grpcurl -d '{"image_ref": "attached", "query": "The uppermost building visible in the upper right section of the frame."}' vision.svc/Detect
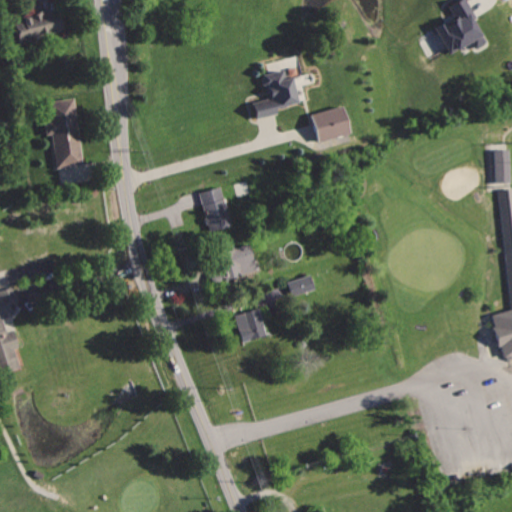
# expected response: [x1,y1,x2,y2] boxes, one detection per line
[438,0,492,54]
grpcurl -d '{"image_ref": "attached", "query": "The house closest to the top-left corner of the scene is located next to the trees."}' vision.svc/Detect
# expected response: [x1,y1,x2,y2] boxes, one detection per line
[16,6,58,40]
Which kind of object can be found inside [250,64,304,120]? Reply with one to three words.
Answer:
house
